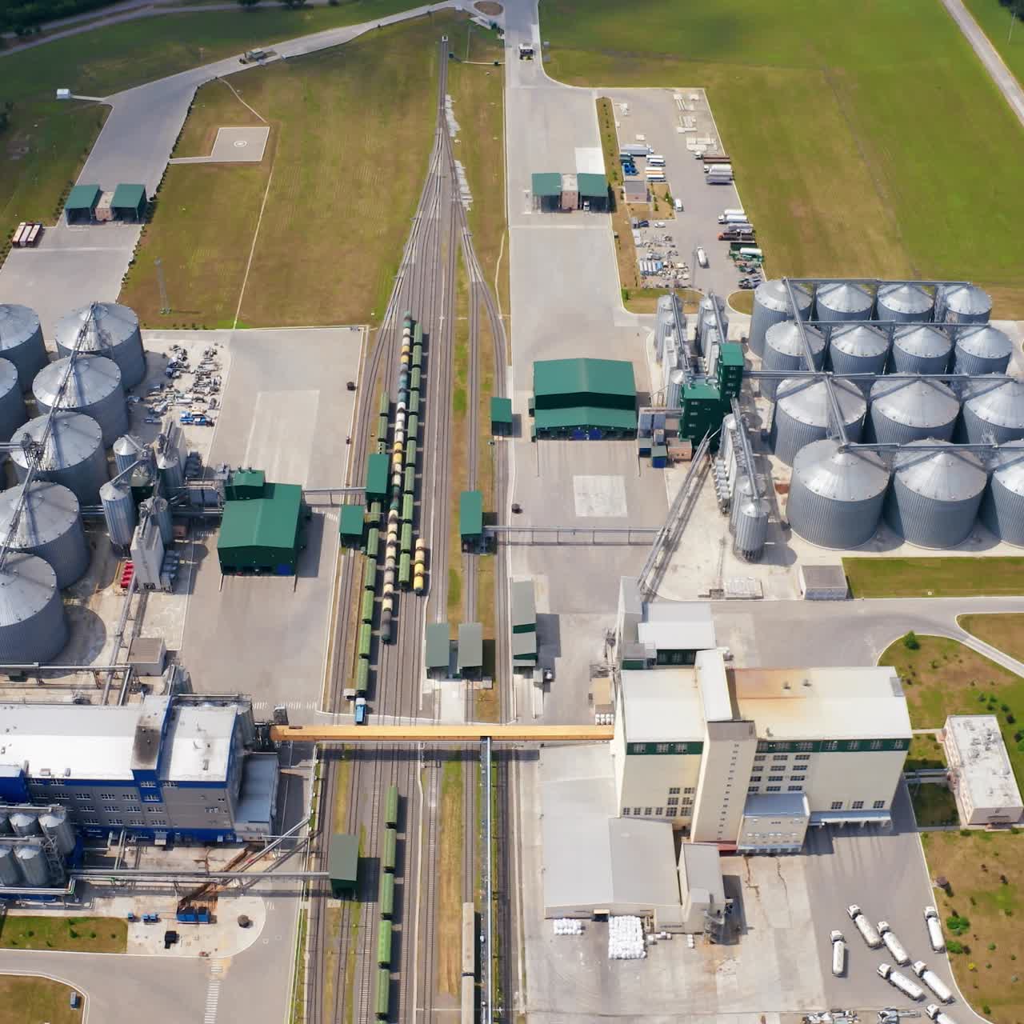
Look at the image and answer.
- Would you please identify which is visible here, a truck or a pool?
truck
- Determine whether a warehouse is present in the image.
Yes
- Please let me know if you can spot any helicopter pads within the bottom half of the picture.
No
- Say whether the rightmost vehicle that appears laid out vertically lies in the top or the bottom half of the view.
bottom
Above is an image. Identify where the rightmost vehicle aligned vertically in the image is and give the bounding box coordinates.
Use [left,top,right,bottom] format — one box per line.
[925,905,945,950]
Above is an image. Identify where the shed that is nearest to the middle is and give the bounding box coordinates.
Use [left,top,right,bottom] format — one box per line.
[461,492,482,552]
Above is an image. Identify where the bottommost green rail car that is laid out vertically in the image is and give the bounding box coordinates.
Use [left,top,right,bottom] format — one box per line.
[373,969,389,1021]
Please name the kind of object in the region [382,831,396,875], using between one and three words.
rail car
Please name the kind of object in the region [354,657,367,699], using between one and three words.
rail car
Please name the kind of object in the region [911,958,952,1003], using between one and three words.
truck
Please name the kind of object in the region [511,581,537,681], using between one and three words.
shed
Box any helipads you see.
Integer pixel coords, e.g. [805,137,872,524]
[169,126,269,163]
